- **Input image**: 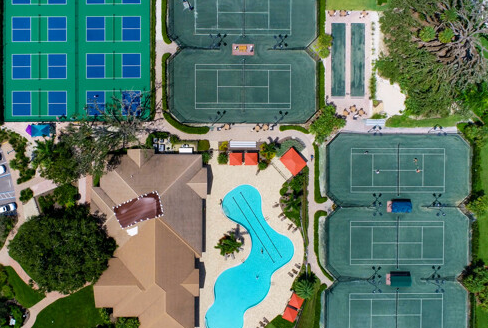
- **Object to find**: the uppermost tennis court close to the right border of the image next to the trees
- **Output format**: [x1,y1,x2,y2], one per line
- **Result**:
[328,133,471,207]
